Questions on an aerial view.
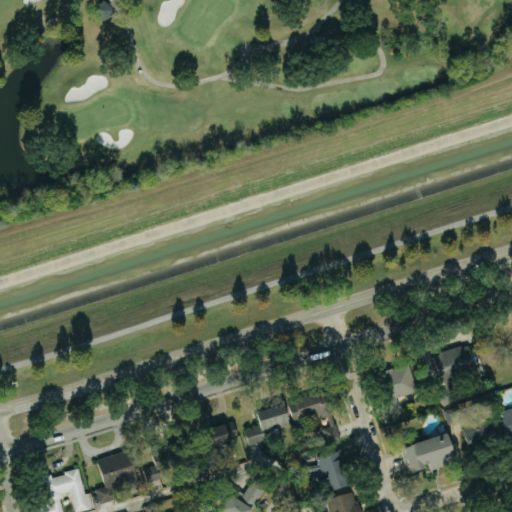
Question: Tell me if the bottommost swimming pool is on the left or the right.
right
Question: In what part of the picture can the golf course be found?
top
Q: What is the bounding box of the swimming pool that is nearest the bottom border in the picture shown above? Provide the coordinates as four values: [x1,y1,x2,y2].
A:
[422,415,444,438]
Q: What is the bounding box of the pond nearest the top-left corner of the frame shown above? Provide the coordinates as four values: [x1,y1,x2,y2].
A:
[0,36,62,194]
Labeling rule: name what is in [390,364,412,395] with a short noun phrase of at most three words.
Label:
house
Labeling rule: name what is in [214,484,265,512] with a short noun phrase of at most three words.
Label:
house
